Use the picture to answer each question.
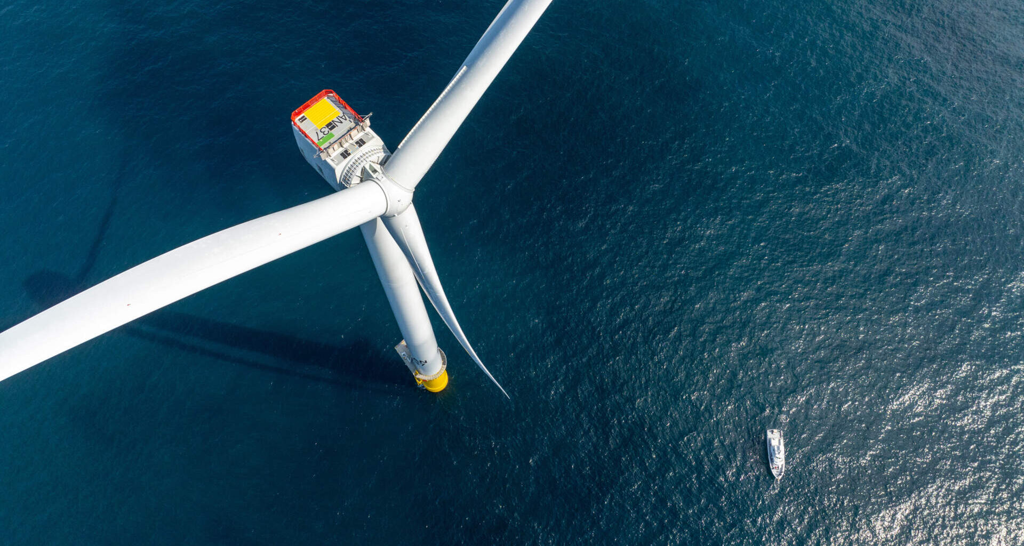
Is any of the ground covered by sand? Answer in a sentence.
No, no sand is visible.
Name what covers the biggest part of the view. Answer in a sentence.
The largest share of the image is taken up by water.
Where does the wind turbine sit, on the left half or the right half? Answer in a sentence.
The wind turbine sits on the left side.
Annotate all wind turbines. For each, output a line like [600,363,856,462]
[0,0,553,406]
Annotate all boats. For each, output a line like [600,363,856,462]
[770,429,787,482]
